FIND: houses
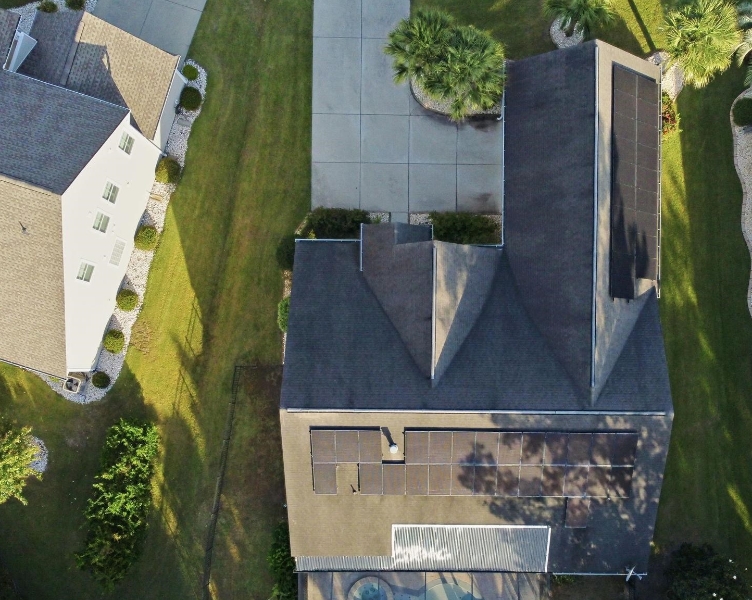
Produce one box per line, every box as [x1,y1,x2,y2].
[280,40,672,575]
[0,4,199,384]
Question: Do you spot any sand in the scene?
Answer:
No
